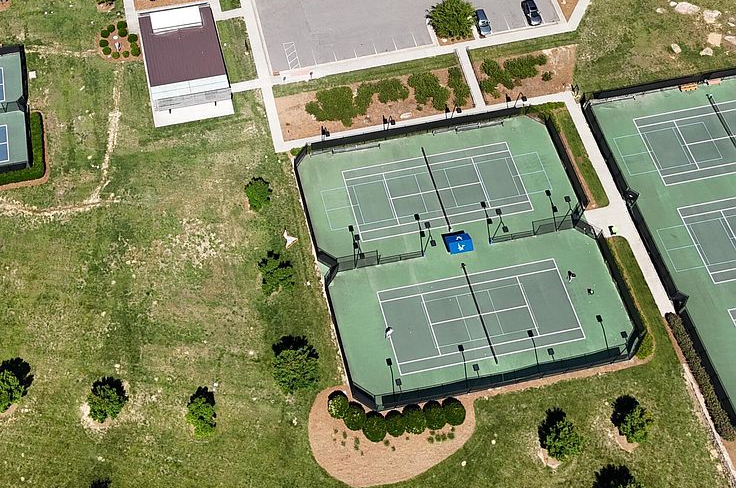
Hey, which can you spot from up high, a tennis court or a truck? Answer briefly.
tennis court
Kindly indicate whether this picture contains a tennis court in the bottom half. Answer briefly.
Yes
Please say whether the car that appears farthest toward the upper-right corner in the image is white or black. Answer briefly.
black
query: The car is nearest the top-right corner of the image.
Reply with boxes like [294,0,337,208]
[521,0,541,26]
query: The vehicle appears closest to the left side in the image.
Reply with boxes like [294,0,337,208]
[473,9,492,37]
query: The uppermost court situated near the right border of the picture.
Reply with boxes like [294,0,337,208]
[587,77,736,205]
